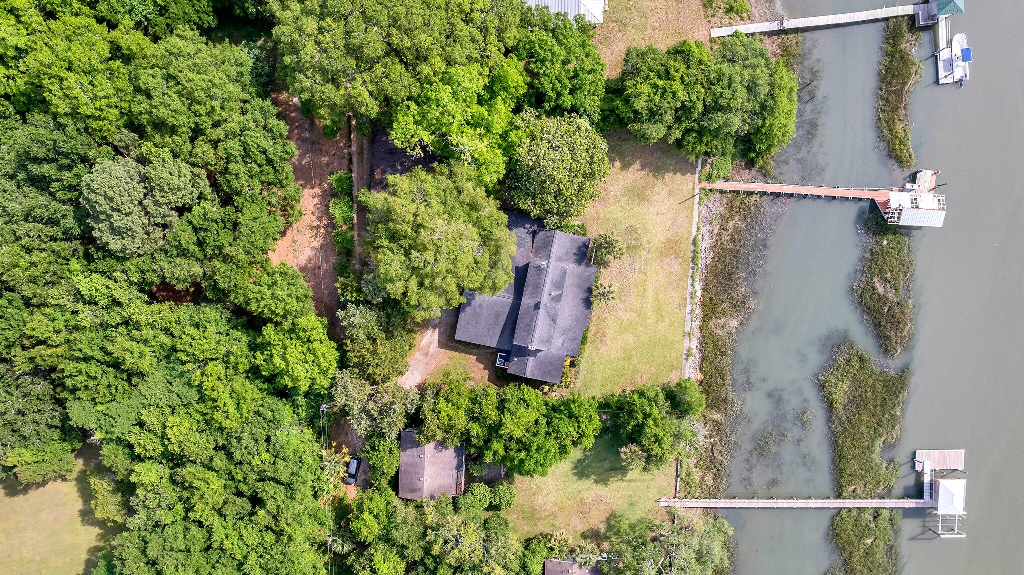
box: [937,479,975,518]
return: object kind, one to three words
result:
building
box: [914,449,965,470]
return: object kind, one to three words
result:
pier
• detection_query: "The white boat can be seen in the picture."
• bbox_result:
[953,35,979,87]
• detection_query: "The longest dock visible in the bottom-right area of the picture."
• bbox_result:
[655,480,967,510]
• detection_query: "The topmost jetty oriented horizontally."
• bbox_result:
[711,0,937,38]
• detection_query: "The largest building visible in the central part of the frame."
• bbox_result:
[455,229,597,383]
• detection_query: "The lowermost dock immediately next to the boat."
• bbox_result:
[936,48,954,85]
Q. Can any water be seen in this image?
Yes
